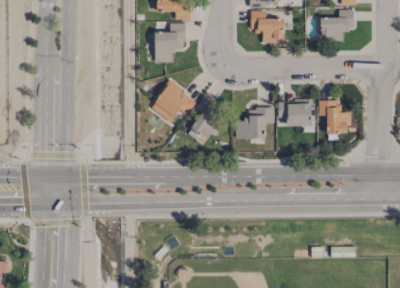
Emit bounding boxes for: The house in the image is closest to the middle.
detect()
[186,112,222,140]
